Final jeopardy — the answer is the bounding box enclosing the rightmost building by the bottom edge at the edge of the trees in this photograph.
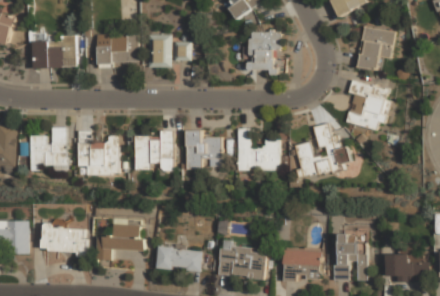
[384,254,430,296]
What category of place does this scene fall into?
residential area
